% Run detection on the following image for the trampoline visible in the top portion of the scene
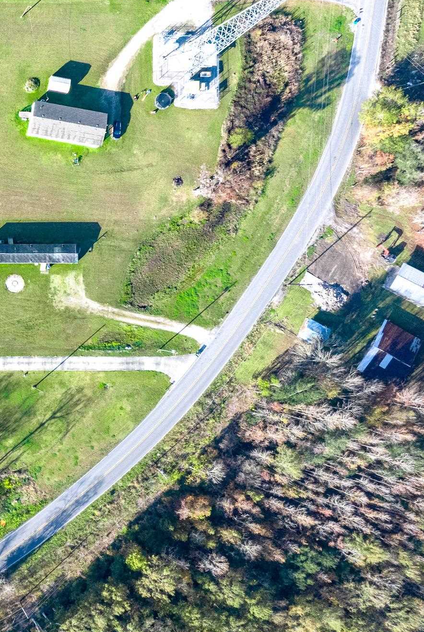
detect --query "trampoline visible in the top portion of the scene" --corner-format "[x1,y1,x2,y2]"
[156,90,176,108]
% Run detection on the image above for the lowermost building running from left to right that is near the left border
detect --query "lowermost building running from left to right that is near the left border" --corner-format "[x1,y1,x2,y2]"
[0,236,78,274]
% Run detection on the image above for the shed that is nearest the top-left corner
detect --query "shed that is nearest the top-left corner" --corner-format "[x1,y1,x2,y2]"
[46,77,71,96]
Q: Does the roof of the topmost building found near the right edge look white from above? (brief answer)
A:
Yes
